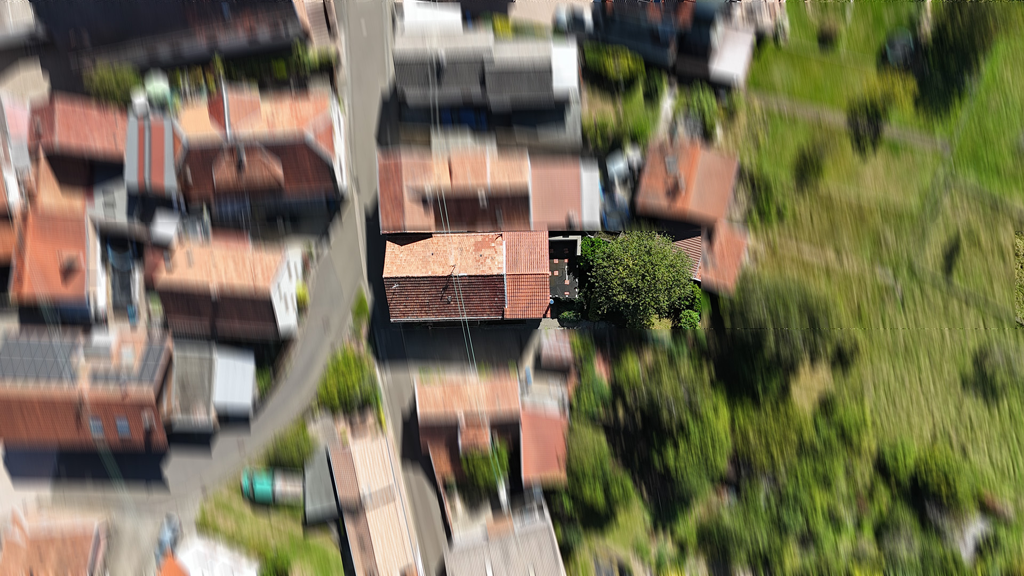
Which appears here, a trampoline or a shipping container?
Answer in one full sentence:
The one in the frame is a trampoline.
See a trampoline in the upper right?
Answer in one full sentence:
Yes, a trampoline appears in the upper right.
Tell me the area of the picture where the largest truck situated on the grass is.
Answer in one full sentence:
You can find the largest truck situated on the grass in the bottom left area of the picture.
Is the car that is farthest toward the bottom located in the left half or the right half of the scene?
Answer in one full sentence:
It is on the left.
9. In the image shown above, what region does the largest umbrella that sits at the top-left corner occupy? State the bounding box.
[147,74,174,101]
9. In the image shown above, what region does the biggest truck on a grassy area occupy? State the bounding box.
[245,464,306,503]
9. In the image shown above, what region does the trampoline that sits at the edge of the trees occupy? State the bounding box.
[878,23,930,67]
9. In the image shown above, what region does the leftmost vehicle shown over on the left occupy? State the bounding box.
[114,268,138,311]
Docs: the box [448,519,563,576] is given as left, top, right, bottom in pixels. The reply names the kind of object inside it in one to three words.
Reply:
building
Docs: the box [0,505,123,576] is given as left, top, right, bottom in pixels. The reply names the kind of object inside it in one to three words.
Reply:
house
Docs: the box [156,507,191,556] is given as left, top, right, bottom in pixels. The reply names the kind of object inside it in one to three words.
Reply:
car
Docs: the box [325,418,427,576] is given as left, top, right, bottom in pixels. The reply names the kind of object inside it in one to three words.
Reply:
barn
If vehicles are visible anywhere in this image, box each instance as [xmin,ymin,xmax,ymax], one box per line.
[550,0,575,41]
[114,268,138,311]
[245,464,306,503]
[156,507,191,556]
[575,0,591,42]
